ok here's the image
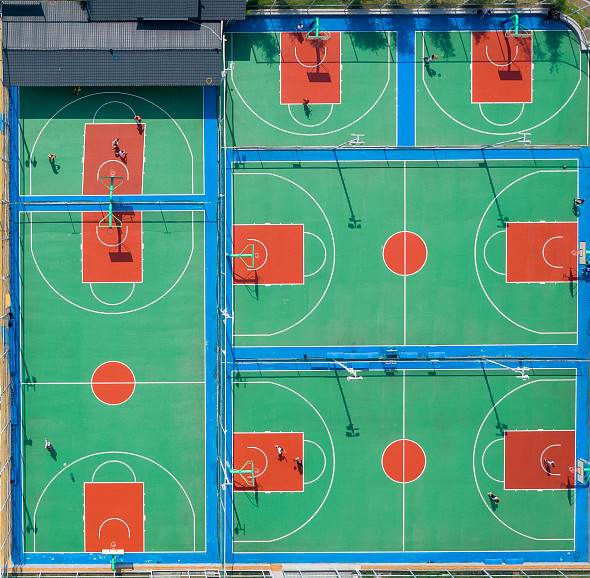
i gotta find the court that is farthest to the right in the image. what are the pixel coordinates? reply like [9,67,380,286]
[415,29,590,148]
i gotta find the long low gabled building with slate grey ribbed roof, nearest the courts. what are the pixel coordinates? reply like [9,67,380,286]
[0,20,223,86]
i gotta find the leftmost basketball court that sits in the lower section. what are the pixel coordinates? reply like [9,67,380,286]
[19,210,206,553]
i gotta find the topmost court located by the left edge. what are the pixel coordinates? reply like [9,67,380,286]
[18,85,205,196]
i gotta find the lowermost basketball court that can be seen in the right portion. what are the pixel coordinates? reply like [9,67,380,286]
[232,368,576,553]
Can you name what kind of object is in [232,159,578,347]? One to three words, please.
basketball court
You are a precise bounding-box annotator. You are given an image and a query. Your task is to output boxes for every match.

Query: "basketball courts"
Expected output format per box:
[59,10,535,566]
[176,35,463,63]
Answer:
[18,85,205,196]
[223,31,398,149]
[19,210,206,553]
[232,159,578,347]
[415,29,590,148]
[232,368,576,553]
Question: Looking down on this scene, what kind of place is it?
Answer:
sports ground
